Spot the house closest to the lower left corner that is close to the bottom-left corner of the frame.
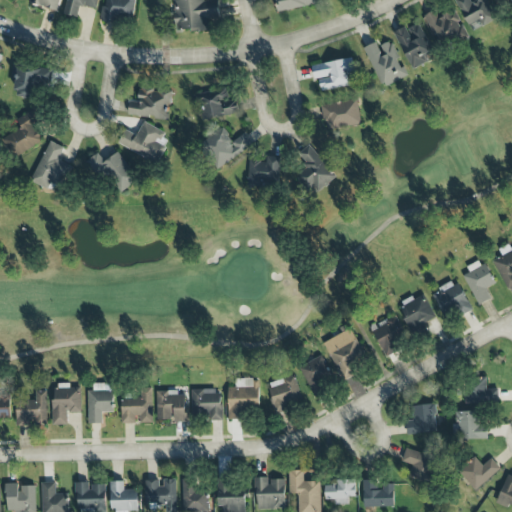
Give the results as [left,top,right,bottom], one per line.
[4,476,36,512]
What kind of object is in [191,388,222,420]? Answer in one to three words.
house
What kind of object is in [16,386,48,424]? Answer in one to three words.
house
